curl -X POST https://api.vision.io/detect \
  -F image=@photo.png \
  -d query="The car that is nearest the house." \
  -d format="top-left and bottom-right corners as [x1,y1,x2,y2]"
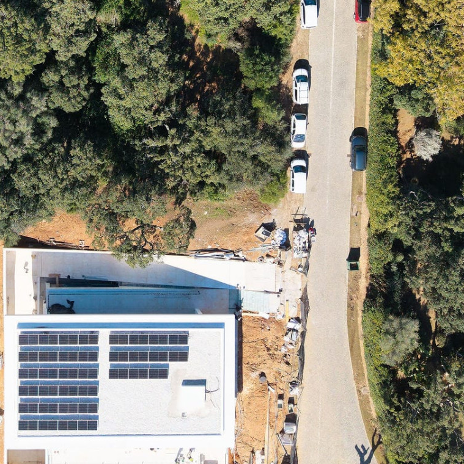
[289,158,308,194]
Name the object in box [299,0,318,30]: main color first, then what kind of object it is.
white car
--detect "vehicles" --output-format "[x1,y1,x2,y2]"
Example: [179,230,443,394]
[289,158,308,194]
[291,69,309,105]
[290,113,308,148]
[352,0,370,23]
[348,132,368,167]
[299,0,318,30]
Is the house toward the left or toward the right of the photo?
left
